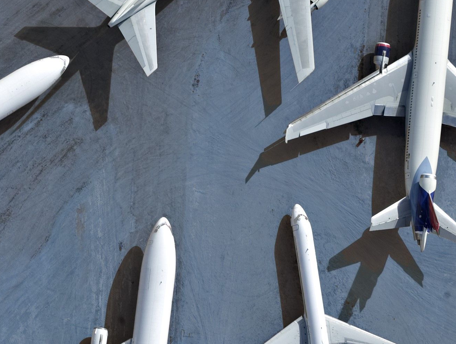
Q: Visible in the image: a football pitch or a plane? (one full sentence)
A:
This aerial view contains a plane.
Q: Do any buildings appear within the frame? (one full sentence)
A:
No, I find no building anywhere in the image.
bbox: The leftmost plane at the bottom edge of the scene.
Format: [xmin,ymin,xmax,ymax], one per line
[125,217,175,344]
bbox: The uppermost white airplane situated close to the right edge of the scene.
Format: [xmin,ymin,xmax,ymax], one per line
[282,0,456,252]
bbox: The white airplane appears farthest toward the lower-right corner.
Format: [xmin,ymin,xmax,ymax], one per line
[264,204,394,344]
